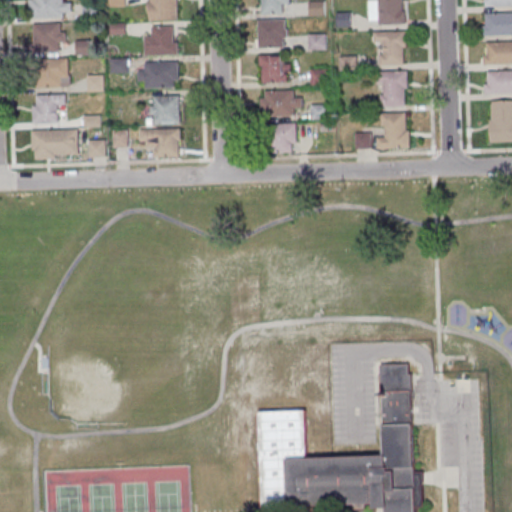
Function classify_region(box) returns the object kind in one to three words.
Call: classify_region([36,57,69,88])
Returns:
house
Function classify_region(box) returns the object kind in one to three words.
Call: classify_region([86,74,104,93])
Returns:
building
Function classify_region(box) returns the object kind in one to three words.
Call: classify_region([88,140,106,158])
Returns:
building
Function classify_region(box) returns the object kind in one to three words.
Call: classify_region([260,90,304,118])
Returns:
house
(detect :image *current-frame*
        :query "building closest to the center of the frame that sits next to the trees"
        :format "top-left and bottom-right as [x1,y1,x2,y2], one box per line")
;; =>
[272,123,296,154]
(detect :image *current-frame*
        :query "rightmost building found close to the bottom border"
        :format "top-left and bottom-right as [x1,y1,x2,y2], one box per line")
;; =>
[284,363,423,512]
